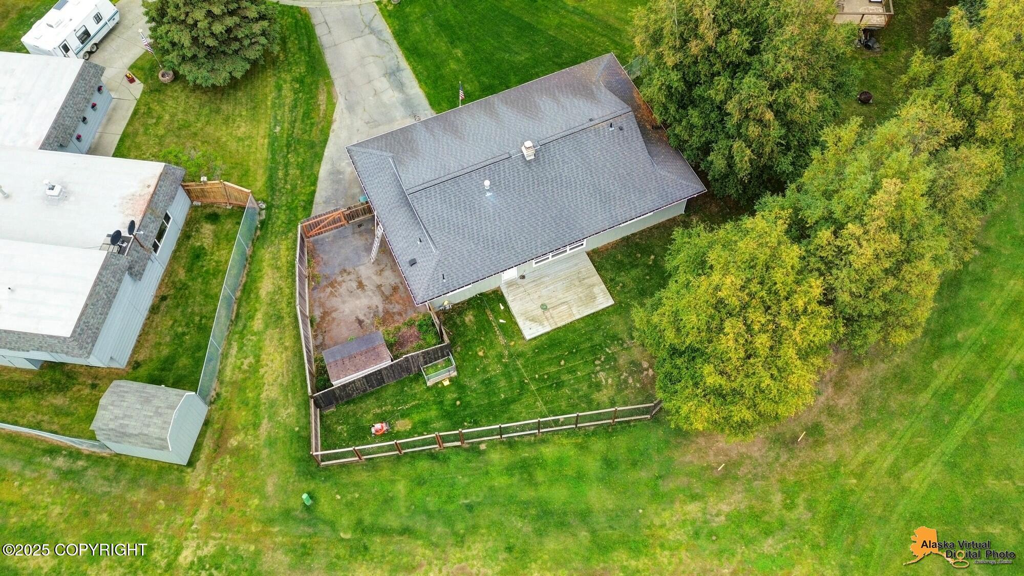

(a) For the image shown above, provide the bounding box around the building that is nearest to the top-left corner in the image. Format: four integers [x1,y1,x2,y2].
[0,51,191,370]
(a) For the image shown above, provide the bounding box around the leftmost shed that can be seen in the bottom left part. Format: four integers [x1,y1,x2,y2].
[87,380,207,465]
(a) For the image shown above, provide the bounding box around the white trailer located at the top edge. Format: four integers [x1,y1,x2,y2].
[25,0,123,60]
